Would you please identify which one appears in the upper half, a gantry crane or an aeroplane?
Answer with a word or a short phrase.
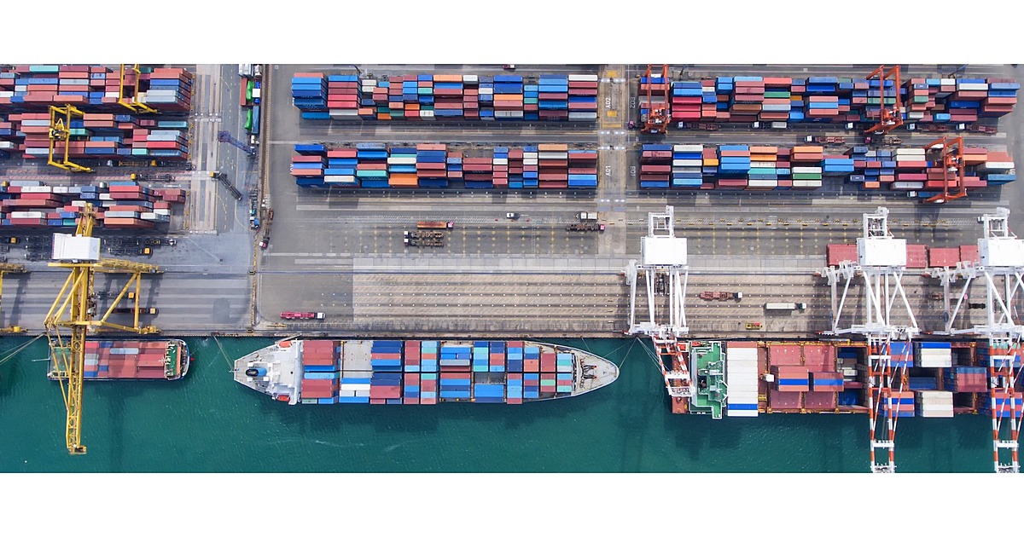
gantry crane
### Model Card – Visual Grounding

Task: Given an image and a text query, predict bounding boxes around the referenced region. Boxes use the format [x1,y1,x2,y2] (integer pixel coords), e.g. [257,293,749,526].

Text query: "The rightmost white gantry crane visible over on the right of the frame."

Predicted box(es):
[924,203,1024,470]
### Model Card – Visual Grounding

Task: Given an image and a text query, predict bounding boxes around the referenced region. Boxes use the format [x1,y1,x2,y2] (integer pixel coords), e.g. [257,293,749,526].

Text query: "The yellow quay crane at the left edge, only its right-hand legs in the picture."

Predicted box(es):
[0,262,45,332]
